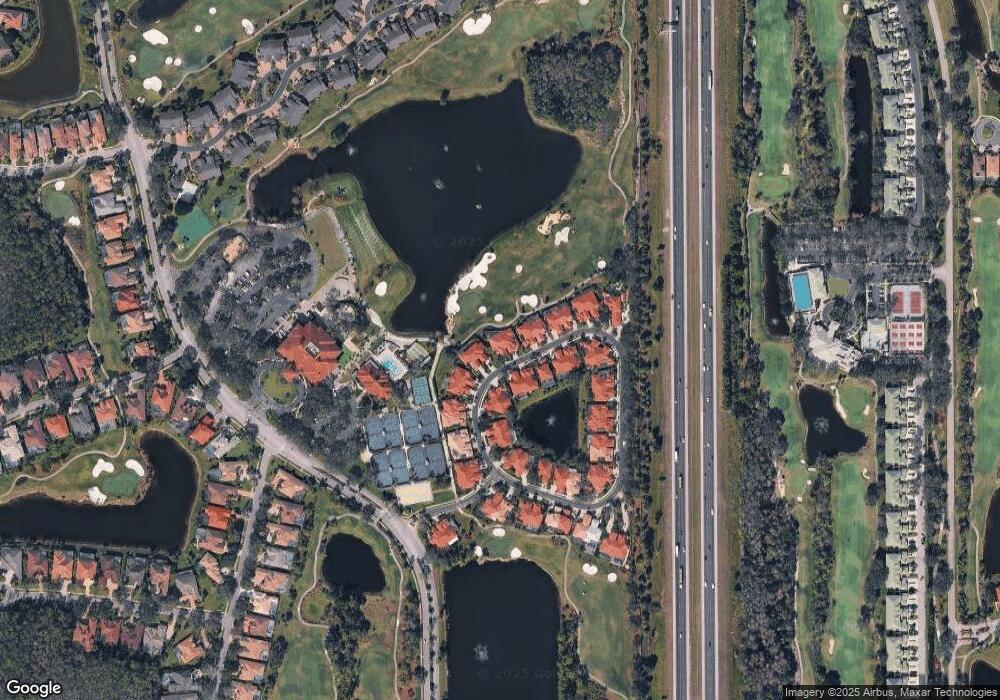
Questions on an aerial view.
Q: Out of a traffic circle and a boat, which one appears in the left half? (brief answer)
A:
traffic circle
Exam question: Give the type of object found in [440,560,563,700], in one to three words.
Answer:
pond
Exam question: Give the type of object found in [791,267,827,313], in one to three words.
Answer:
swimming pool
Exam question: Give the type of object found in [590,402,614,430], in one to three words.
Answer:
house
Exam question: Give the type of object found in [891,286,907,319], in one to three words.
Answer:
tennis court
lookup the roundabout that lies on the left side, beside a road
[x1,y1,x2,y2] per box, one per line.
[255,361,309,411]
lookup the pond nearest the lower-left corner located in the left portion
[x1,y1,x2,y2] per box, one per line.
[322,533,384,592]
